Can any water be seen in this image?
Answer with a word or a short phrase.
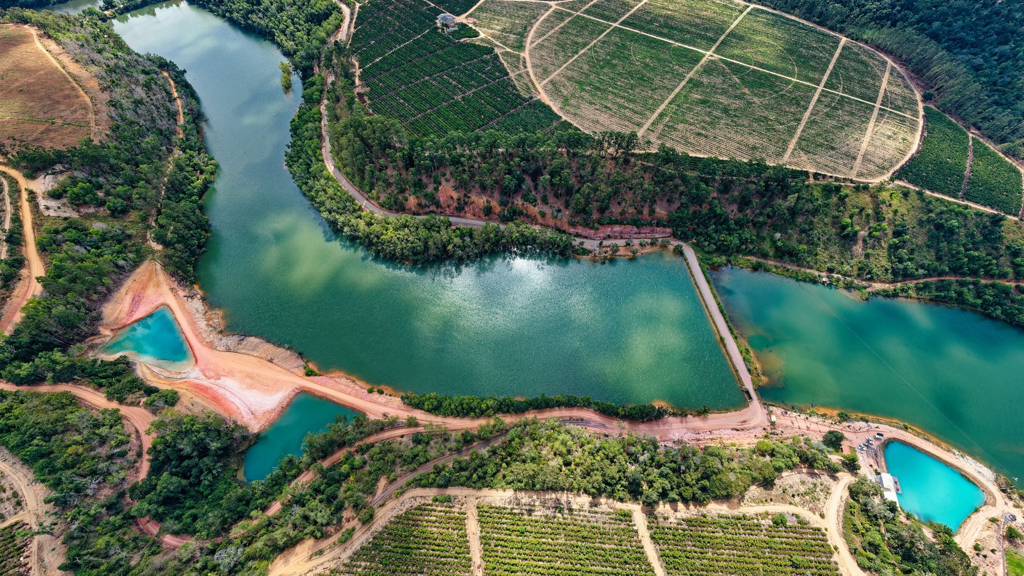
Yes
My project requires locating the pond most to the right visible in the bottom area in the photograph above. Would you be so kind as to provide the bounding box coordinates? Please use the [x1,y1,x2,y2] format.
[884,440,985,531]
